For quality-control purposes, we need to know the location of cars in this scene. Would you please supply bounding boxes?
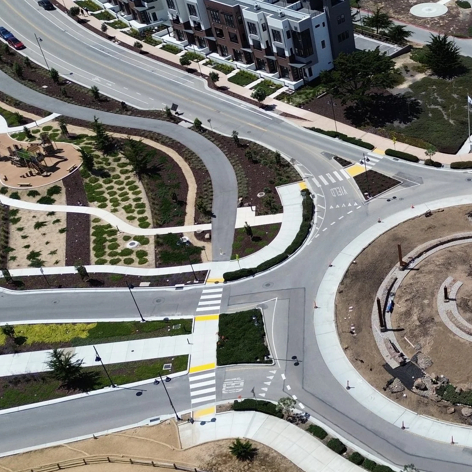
[37,0,54,8]
[0,23,13,38]
[4,36,25,48]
